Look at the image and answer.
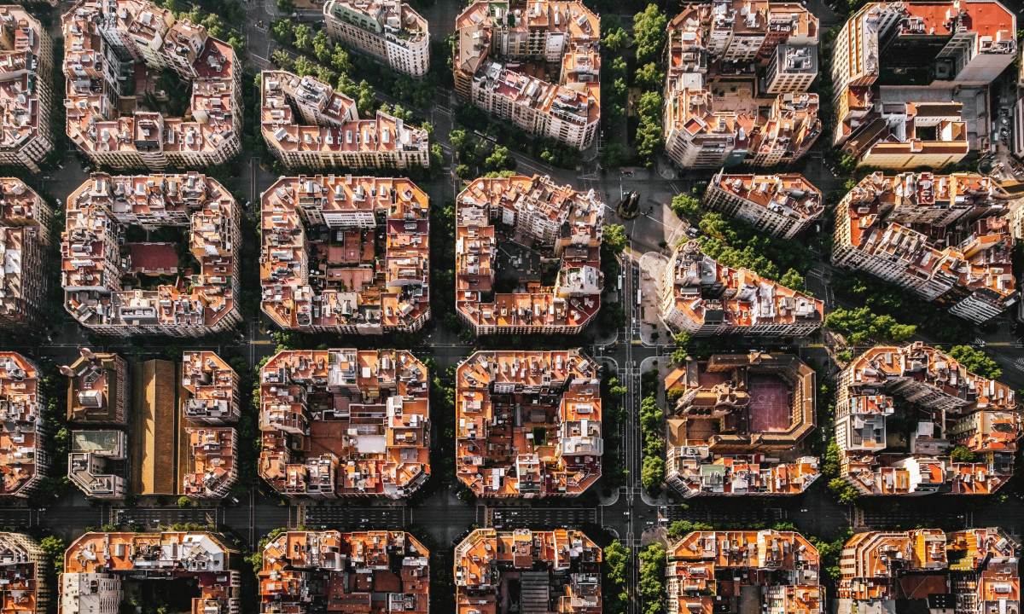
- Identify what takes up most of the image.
buildings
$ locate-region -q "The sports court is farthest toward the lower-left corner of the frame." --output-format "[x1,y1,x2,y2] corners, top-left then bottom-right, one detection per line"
[75,431,117,450]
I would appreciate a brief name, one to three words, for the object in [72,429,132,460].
building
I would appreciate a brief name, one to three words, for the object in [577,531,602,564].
building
